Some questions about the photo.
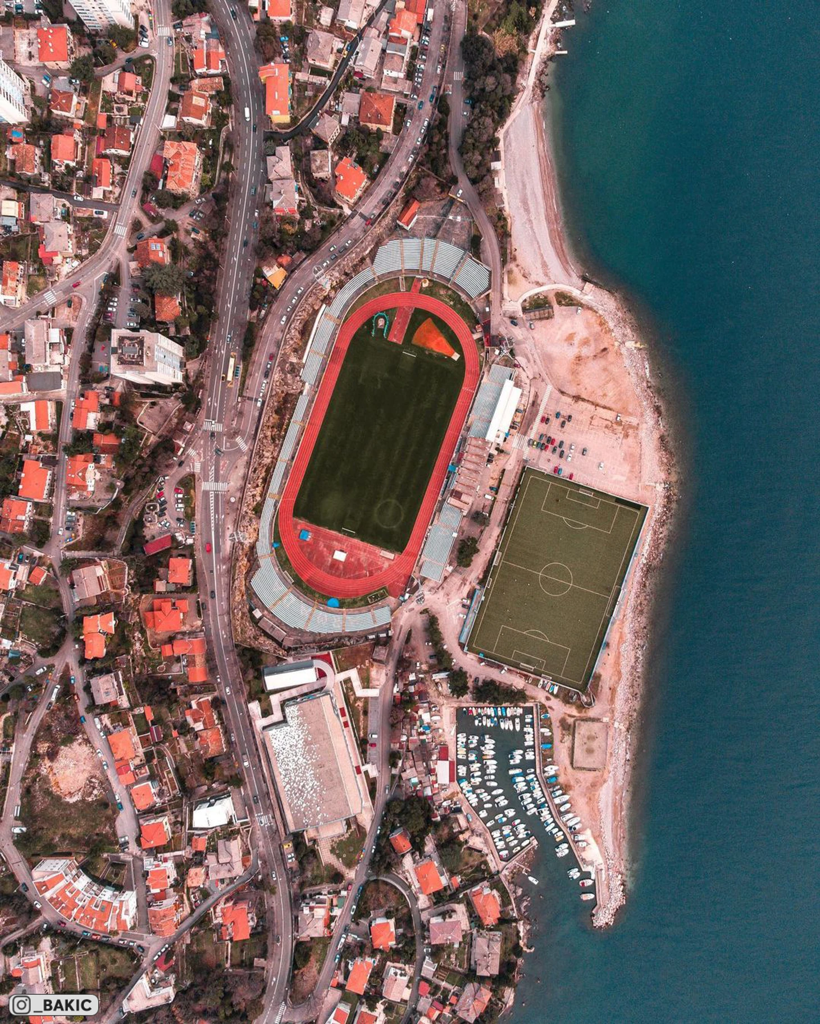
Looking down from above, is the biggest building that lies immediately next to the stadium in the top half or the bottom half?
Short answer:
bottom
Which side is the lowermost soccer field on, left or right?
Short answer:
right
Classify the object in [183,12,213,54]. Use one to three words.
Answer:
house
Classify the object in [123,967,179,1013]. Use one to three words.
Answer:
building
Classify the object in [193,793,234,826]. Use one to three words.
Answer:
building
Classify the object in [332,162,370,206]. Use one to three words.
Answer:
house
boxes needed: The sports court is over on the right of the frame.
[574,721,608,770]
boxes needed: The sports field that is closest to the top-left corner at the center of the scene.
[293,308,462,554]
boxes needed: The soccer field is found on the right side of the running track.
[466,468,648,690]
